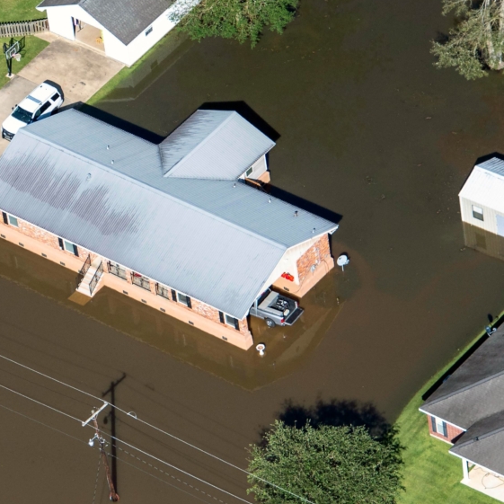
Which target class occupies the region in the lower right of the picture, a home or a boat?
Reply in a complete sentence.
There is a home in the lower right of the picture.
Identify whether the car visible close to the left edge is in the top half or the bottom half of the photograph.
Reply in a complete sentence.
You can find the car visible close to the left edge in the top half.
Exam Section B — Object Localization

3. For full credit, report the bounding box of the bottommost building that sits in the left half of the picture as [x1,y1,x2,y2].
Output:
[0,108,340,351]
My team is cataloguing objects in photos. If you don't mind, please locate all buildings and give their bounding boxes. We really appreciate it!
[37,0,194,69]
[459,158,504,239]
[419,323,504,504]
[0,108,340,351]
